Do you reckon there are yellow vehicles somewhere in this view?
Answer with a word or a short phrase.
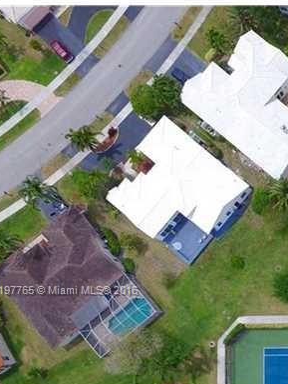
No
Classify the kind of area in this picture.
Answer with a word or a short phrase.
residential area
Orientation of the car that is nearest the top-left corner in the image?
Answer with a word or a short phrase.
diagonally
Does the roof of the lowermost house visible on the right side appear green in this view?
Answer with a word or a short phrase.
No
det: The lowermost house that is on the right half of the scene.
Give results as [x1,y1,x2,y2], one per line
[106,117,252,240]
